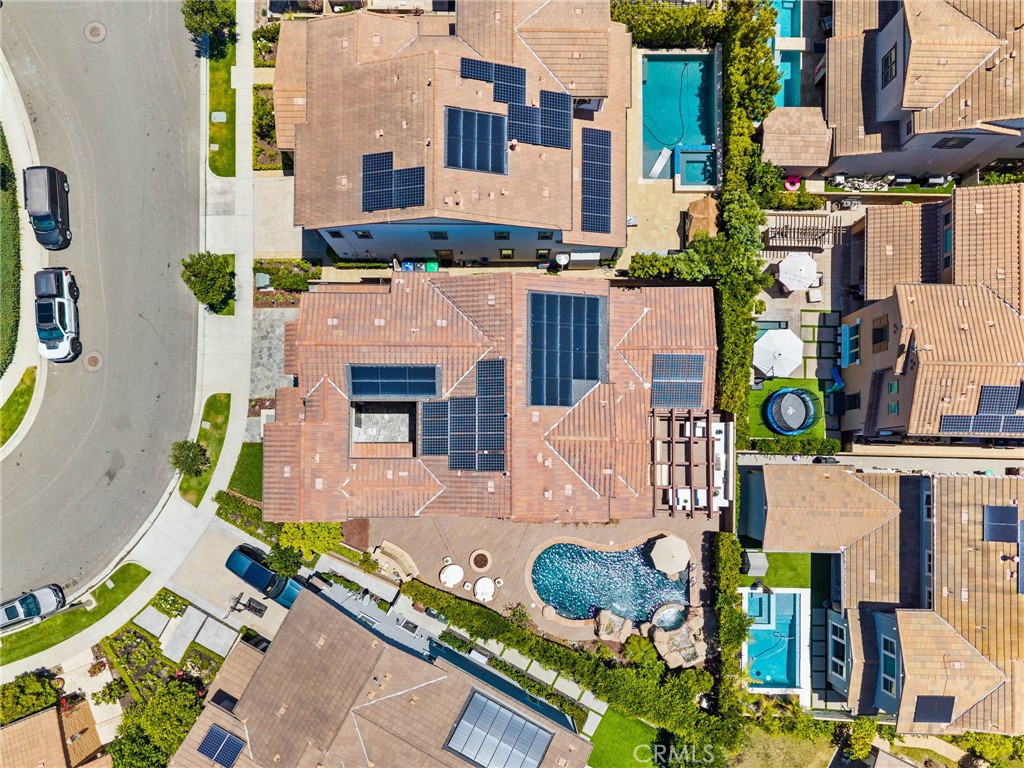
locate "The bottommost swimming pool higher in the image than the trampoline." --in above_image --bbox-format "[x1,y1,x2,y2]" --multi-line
[756,319,790,338]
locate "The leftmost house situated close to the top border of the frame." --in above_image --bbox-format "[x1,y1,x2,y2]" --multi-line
[273,0,632,259]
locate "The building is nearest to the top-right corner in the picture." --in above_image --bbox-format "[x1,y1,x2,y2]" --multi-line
[824,0,1024,176]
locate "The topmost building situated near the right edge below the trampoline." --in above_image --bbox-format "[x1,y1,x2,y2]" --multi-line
[749,466,1024,737]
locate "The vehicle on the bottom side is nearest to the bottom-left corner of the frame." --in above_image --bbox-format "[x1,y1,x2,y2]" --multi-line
[0,581,69,634]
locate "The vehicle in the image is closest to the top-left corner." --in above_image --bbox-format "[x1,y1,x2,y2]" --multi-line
[22,167,72,249]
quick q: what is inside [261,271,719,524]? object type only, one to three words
house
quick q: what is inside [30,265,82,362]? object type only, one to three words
truck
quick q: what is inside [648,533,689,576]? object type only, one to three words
umbrella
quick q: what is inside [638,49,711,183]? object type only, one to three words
swimming pool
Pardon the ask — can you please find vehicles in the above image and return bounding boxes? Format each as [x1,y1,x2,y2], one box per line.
[22,167,72,249]
[0,581,69,634]
[220,548,312,616]
[30,265,82,362]
[271,0,303,13]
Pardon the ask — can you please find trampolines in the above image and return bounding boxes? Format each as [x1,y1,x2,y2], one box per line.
[756,385,819,439]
